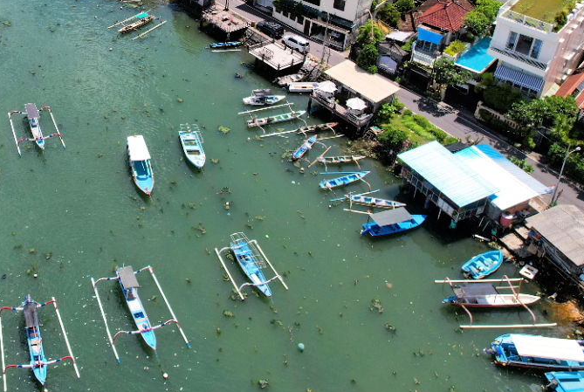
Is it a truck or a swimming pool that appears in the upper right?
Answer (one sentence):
There is a swimming pool in the upper right.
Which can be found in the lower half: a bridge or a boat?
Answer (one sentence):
There is a boat in the lower half.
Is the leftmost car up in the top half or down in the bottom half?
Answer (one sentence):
It is in the top half that the leftmost car appears.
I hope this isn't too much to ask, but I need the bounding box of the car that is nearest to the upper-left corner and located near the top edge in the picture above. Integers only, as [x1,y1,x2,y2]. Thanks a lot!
[254,18,285,40]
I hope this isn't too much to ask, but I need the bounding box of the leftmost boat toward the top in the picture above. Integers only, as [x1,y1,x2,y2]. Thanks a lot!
[9,94,68,157]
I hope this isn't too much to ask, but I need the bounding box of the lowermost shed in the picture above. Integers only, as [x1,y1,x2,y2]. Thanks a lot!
[519,204,584,285]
